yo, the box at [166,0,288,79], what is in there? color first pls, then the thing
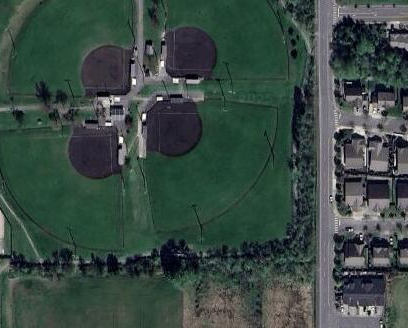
green baseball field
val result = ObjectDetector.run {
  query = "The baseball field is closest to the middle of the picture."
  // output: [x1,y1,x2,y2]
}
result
[145,100,276,232]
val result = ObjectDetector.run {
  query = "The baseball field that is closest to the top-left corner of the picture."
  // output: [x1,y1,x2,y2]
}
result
[10,0,131,97]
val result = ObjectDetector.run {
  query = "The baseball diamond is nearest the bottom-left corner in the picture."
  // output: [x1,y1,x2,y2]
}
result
[0,125,122,249]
